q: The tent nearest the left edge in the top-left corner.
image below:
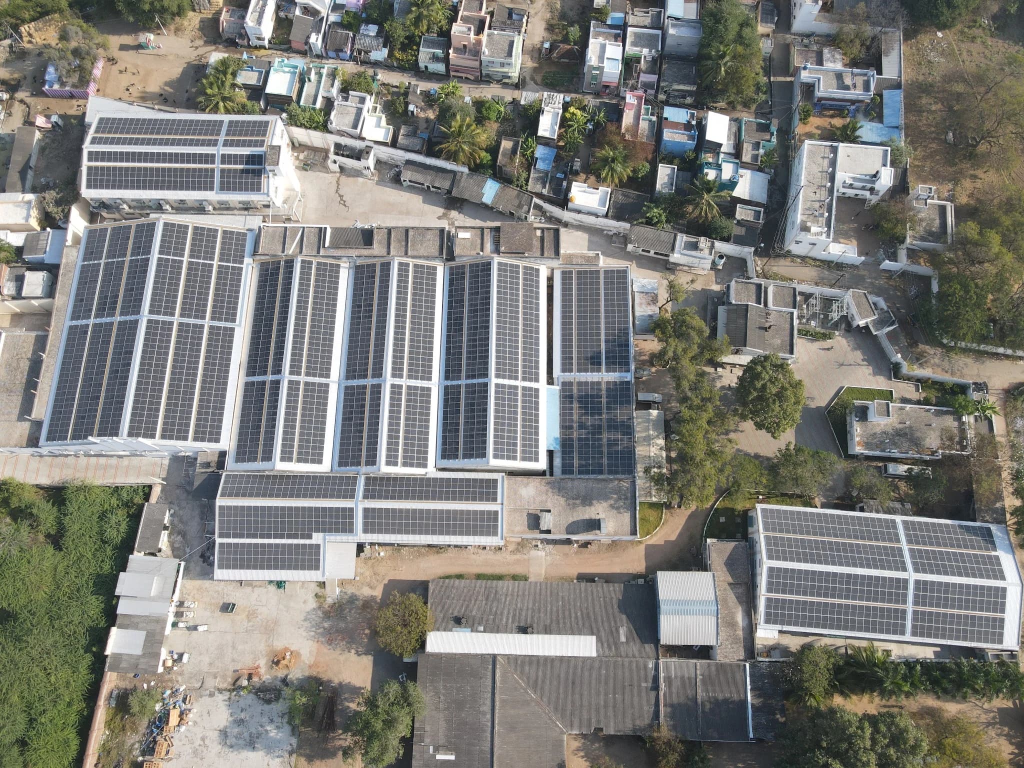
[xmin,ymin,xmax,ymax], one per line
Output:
[42,59,105,100]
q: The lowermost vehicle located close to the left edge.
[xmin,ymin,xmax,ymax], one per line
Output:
[48,115,67,131]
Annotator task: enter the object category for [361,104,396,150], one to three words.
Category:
house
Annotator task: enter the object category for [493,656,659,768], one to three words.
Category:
shed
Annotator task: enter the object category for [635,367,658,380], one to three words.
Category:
vehicle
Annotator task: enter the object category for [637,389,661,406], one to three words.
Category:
vehicle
